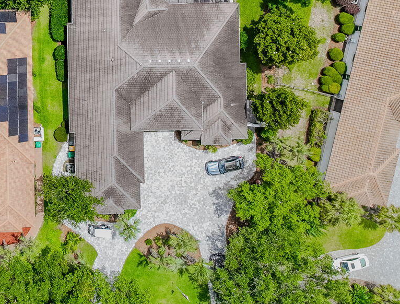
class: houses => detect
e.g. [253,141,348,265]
[65,0,248,215]
[0,9,36,233]
[313,0,400,207]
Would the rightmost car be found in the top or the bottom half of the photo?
bottom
